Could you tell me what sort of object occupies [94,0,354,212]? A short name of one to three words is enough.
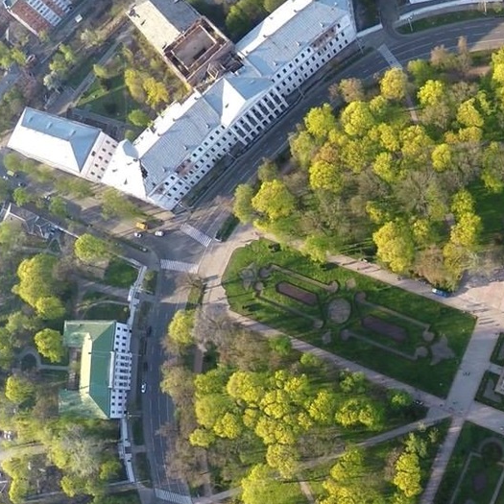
building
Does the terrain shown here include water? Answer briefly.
No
